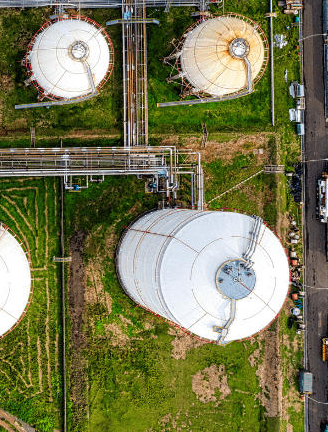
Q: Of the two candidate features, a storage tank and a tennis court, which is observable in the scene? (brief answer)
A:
storage tank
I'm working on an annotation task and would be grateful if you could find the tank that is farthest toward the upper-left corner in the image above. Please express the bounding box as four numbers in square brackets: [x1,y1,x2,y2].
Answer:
[16,8,117,111]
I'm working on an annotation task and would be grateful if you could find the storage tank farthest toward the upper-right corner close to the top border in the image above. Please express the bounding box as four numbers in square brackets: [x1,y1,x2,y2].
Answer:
[159,5,273,109]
